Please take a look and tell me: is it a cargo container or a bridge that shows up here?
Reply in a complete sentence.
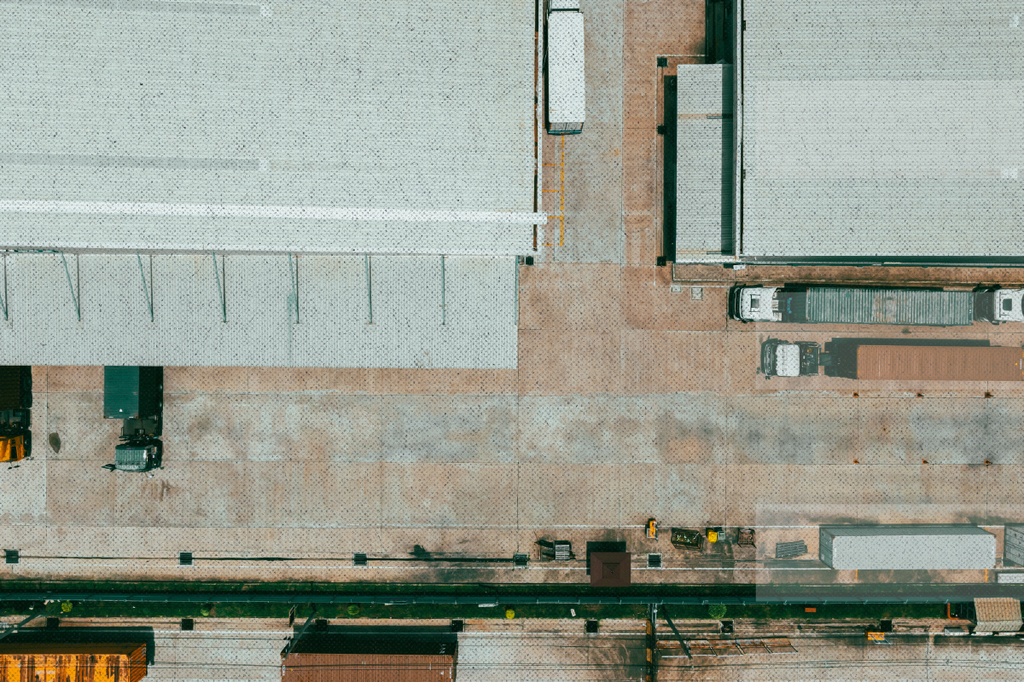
It is a cargo container that can be seen here.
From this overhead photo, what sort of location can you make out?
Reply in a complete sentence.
The picture captures an industrial area.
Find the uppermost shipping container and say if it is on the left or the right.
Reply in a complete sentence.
It is on the right.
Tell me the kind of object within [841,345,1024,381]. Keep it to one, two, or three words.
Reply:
shipping container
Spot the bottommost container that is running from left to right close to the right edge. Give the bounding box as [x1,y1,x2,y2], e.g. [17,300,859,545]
[819,528,995,569]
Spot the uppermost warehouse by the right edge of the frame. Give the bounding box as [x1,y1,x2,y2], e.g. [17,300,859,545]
[707,0,1024,270]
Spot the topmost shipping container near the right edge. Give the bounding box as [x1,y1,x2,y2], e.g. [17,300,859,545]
[791,288,974,326]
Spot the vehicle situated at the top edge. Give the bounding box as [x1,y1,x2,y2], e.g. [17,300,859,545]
[547,0,585,139]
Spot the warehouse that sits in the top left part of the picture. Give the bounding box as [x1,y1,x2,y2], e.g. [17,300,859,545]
[0,0,547,370]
